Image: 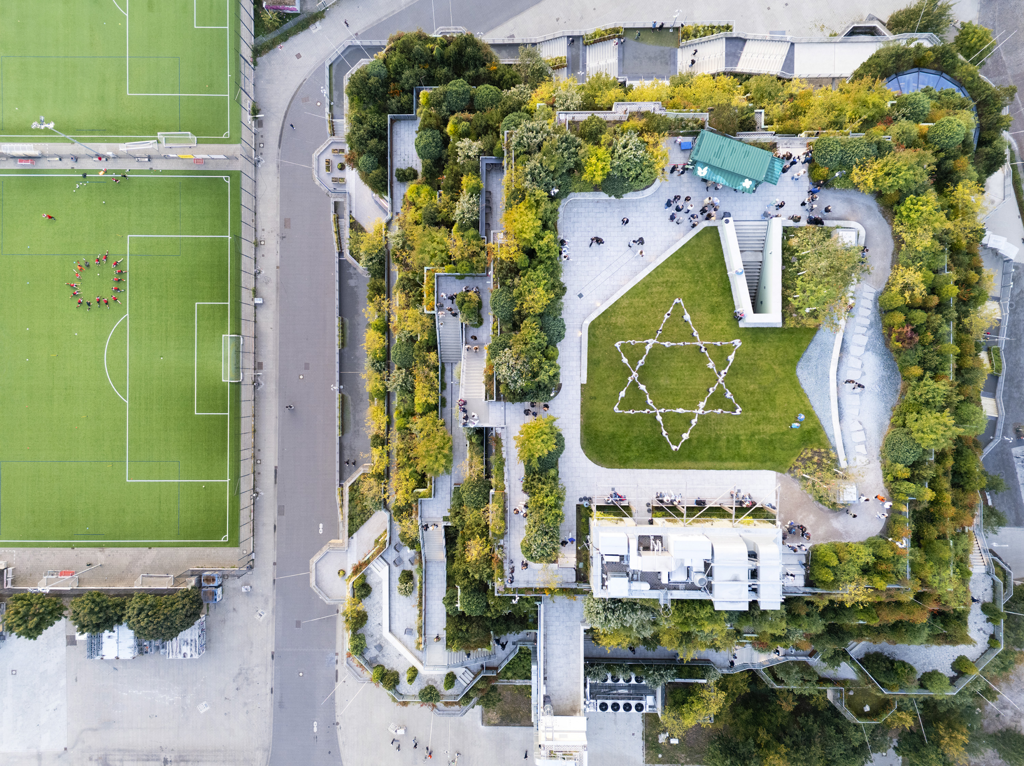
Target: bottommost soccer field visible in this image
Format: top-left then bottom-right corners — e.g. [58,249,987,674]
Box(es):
[0,171,241,548]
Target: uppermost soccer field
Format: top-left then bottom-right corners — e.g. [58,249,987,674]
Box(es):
[0,0,241,143]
